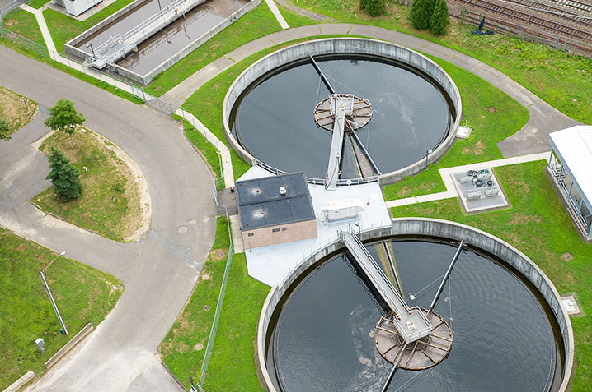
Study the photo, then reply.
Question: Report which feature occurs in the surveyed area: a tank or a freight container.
tank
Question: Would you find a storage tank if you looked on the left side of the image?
Yes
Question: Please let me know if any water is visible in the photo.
Yes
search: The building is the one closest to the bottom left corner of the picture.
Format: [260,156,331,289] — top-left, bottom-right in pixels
[241,171,324,250]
